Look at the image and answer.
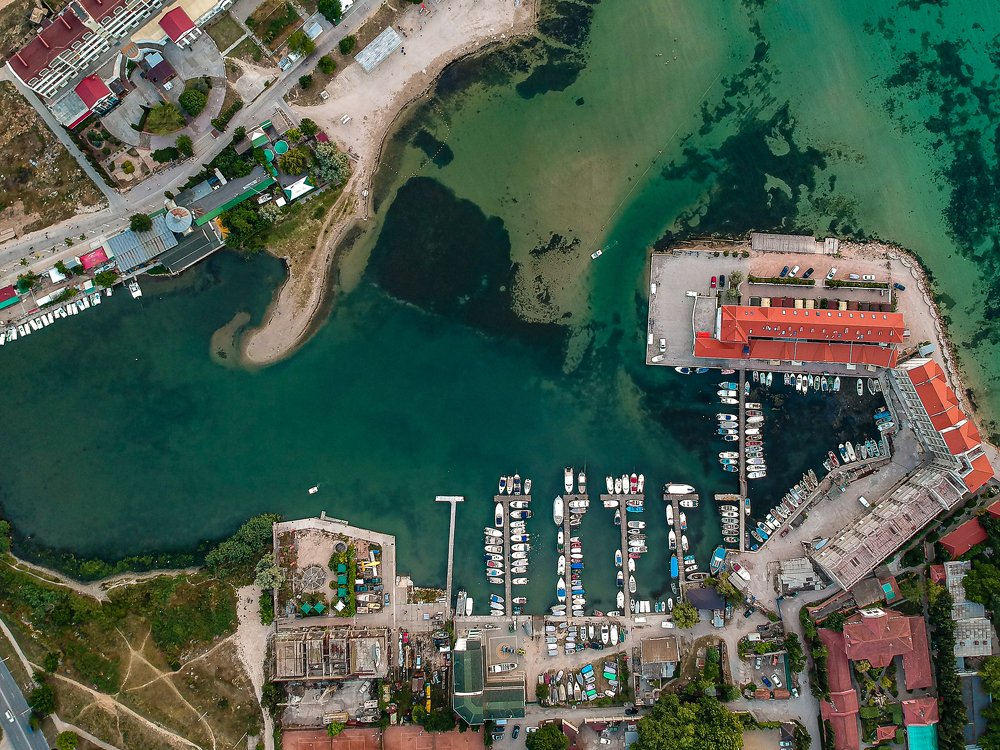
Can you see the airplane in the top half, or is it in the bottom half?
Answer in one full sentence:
The bottom half of the photo is where the airplane is.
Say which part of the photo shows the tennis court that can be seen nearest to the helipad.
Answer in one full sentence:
The tennis court that can be seen nearest to the helipad is located in the bottom region of the scene.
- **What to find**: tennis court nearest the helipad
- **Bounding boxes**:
[384,724,484,750]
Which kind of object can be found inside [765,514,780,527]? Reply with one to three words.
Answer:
boat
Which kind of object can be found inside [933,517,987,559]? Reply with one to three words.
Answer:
house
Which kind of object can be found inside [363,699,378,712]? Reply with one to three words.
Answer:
vehicle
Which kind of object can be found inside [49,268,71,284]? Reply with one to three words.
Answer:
gazebo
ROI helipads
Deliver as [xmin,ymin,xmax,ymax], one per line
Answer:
[487,631,521,674]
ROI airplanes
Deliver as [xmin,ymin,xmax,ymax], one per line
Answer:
[356,553,379,577]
